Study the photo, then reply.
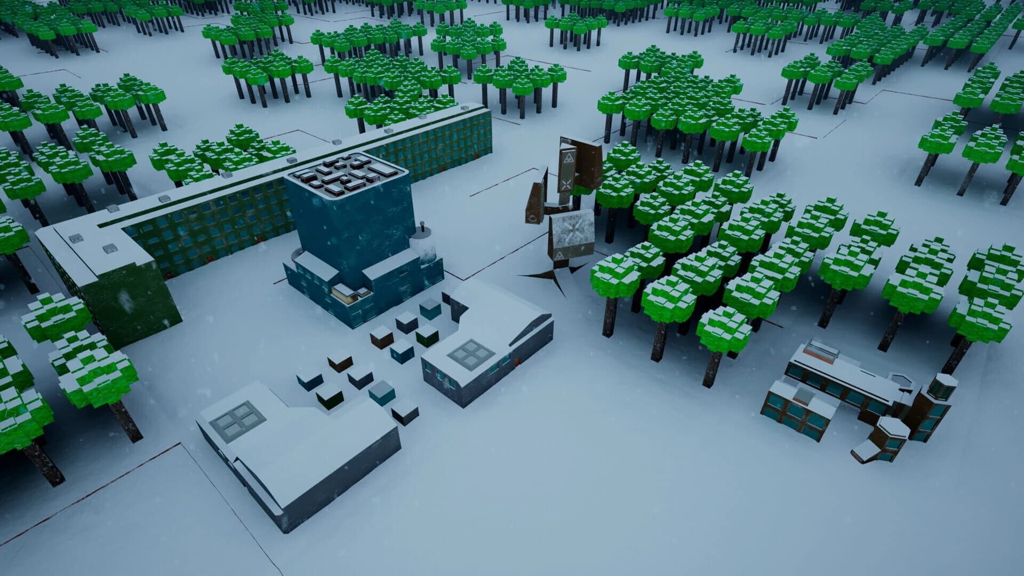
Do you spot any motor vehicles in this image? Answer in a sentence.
No, the frame has no motor vehicle in it.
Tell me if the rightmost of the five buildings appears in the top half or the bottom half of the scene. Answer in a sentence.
You can find the rightmost of the five buildings in the bottom half.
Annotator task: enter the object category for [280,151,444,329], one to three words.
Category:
building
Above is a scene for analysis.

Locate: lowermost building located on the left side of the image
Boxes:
[197,381,401,537]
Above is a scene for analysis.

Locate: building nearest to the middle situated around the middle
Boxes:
[421,277,554,409]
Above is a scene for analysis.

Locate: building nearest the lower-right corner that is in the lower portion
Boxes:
[761,338,957,464]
